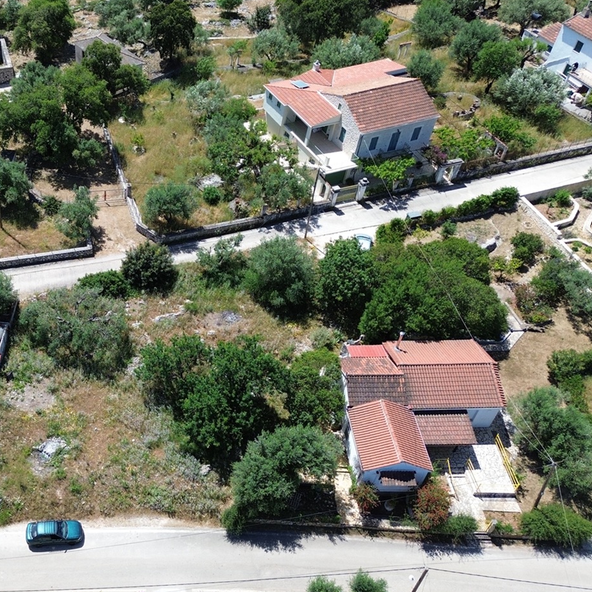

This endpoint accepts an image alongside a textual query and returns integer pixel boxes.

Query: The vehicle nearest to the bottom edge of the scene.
[24,521,83,552]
